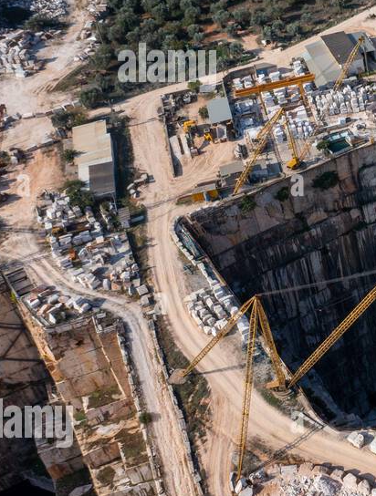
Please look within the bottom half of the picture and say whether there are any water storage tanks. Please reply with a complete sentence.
No, there's no water storage tank to be seen within the bottom half of the picture.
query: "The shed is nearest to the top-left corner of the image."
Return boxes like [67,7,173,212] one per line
[73,118,115,178]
